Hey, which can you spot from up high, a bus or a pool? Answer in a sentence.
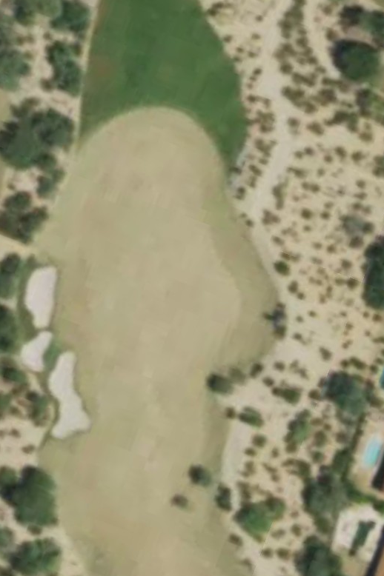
This aerial view contains a pool.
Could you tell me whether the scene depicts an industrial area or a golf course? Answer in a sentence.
What you see here is a golf course.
